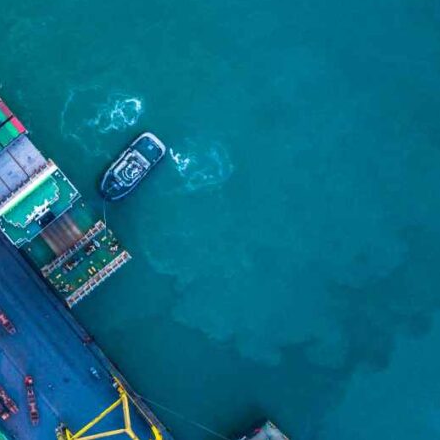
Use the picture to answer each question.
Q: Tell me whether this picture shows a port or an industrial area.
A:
port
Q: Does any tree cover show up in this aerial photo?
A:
No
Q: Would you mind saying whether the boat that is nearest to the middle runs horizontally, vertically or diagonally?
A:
diagonally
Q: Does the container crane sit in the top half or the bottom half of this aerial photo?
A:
bottom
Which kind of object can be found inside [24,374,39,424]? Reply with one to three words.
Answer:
vehicle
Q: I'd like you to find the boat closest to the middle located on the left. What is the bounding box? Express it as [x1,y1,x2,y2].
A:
[101,126,169,201]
